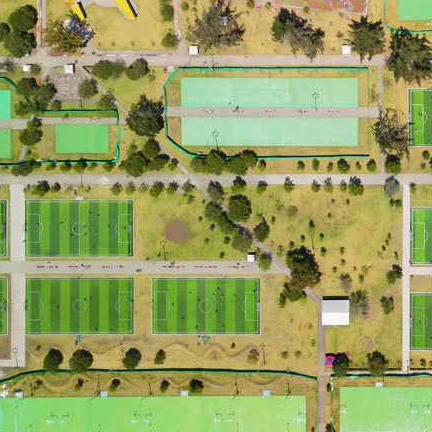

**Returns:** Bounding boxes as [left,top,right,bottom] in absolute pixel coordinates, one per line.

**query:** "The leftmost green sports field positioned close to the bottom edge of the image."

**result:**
[0,396,306,432]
